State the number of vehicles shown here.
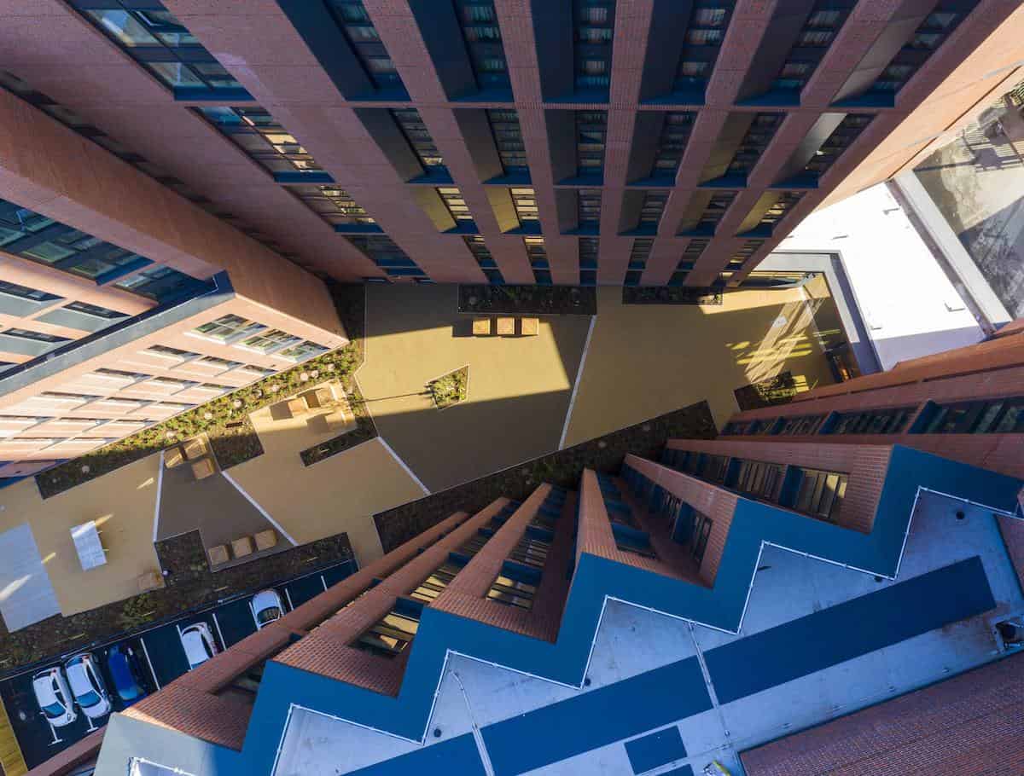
five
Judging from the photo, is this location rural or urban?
urban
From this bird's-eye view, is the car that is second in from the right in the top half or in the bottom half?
bottom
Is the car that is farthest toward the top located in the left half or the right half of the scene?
left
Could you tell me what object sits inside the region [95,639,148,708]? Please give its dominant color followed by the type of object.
blue car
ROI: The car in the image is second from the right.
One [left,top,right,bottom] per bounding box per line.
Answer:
[172,617,214,670]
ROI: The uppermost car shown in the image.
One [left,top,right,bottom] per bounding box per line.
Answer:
[250,588,284,628]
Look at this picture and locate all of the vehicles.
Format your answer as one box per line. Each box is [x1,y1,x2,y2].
[58,652,111,722]
[250,588,284,628]
[172,617,214,670]
[24,667,75,730]
[95,639,148,708]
